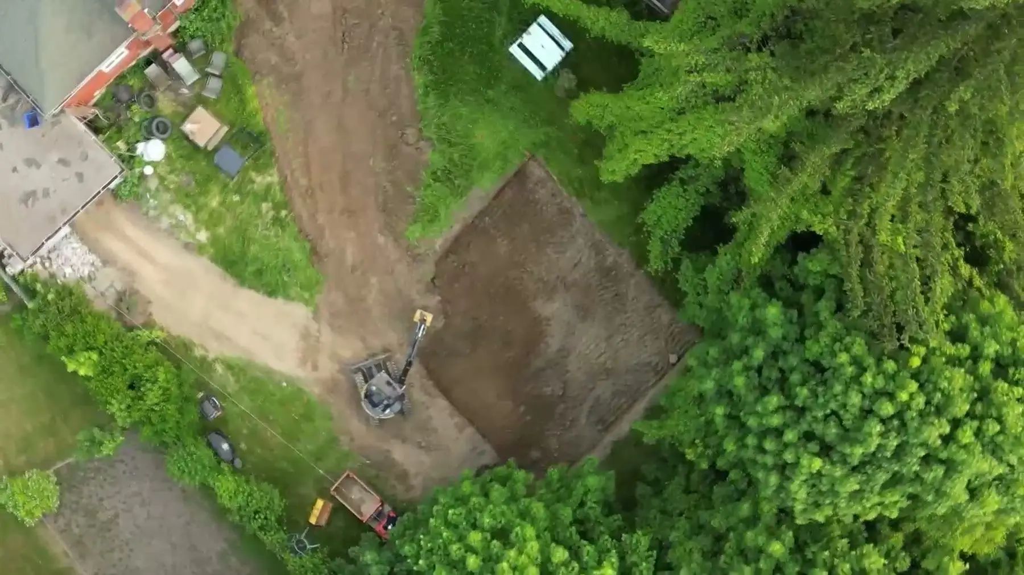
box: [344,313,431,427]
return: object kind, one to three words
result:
work vehicle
